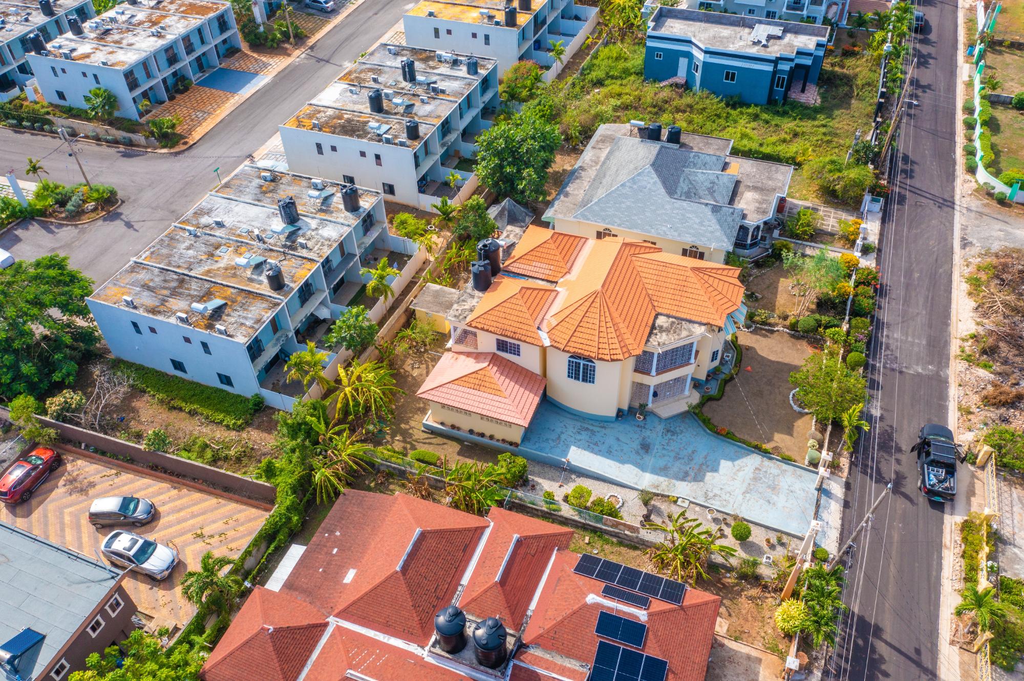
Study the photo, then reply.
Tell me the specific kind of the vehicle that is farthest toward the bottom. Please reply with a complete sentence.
It looks like the vehicle that is farthest toward the bottom is a car.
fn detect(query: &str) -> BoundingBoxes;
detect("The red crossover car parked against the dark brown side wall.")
[0,439,65,503]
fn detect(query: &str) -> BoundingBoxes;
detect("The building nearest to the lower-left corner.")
[0,528,141,681]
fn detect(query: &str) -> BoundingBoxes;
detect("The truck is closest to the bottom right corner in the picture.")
[909,427,970,505]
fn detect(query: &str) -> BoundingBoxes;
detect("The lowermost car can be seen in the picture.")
[96,523,179,580]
